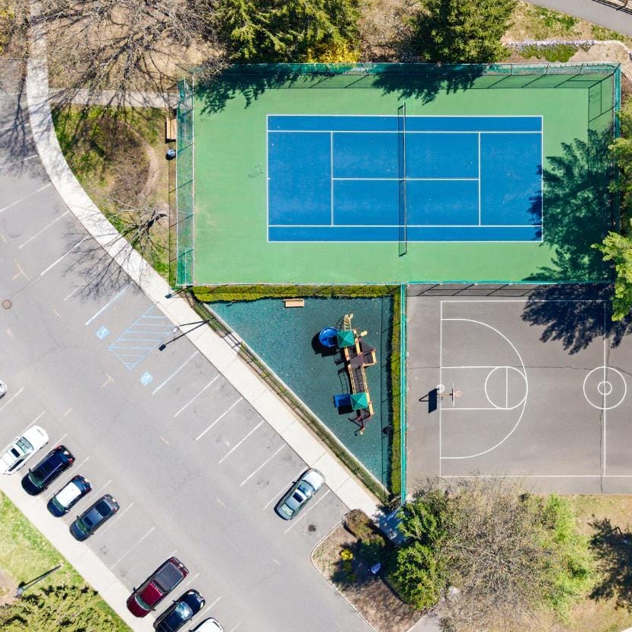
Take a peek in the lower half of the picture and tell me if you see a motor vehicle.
Yes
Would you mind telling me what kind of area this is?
sports ground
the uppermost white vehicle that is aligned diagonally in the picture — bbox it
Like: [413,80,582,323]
[0,429,45,478]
